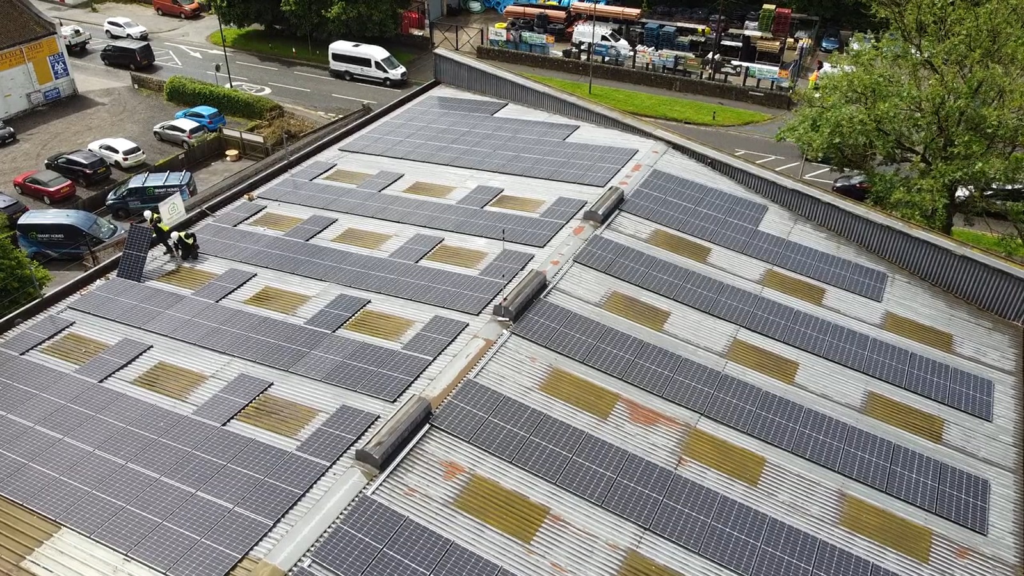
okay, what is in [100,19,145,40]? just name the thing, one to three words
car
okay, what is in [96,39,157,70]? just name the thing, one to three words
van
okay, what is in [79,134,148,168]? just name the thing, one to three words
car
